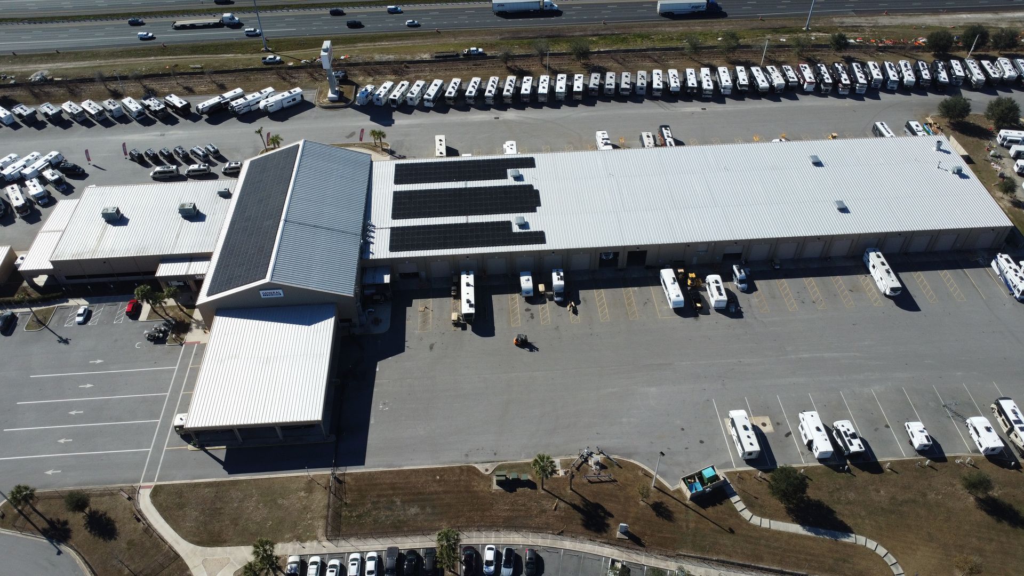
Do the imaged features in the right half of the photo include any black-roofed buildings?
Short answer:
No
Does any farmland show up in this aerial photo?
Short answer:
No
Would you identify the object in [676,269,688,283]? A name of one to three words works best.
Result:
vehicle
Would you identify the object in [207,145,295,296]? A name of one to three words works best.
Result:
solar array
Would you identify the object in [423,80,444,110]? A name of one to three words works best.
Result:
camper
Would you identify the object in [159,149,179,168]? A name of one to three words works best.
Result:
vehicle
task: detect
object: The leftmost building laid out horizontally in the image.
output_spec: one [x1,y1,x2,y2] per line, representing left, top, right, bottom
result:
[18,177,235,284]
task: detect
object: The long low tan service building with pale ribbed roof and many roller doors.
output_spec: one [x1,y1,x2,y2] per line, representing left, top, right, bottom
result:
[361,133,1014,280]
